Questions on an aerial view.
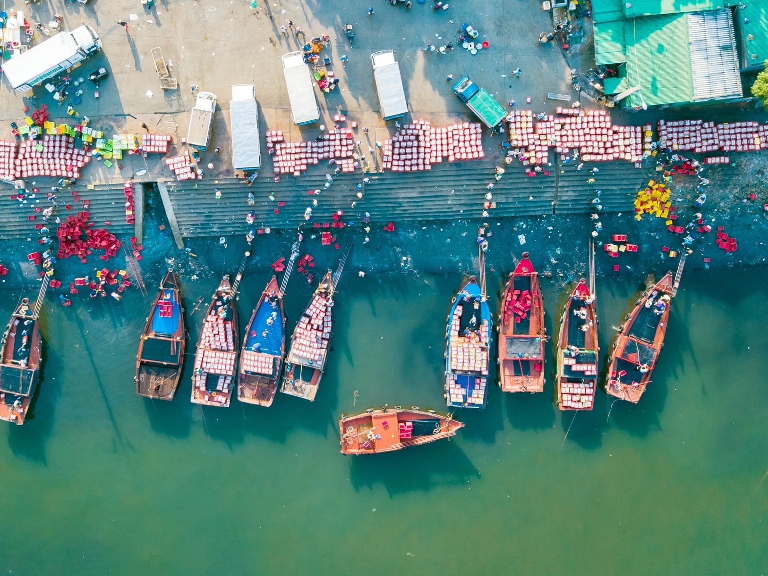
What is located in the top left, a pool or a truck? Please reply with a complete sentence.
The one visible in the top left is a truck.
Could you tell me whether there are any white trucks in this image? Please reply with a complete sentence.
Yes, a white truck appears in the view.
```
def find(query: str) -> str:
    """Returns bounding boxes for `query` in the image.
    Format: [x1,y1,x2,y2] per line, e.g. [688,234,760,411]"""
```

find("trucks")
[277,51,322,136]
[226,85,263,176]
[2,23,111,94]
[447,74,507,137]
[366,50,409,129]
[187,91,223,158]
